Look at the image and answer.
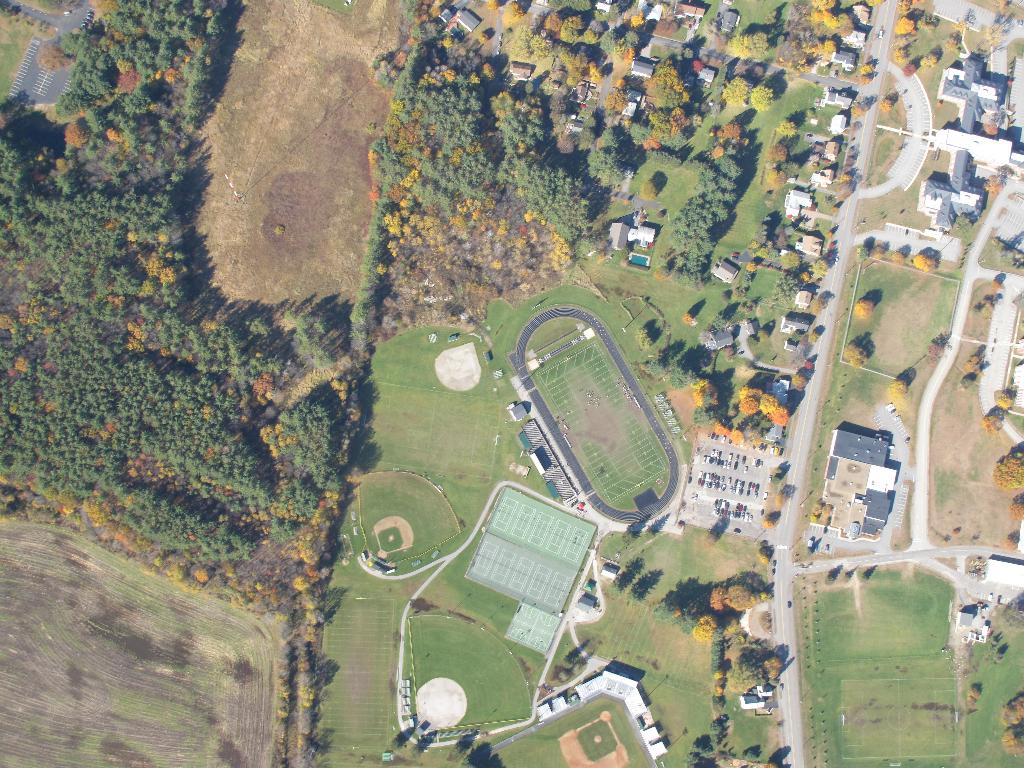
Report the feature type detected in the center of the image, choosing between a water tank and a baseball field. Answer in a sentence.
The feature located in the center of the image is a baseball field.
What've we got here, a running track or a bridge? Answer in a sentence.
This aerial view contains a running track.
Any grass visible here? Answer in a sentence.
Yes, some grass is visible.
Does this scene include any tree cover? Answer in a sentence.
Yes, there is tree cover in the image.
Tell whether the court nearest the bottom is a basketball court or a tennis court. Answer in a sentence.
The court nearest the bottom is a basketball court.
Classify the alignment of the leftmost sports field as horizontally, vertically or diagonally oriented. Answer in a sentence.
What the image shows is the leftmost sports field lying vertically.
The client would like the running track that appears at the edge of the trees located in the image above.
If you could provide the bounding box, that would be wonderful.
[510,308,682,524]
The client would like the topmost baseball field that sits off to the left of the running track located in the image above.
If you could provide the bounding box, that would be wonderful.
[435,342,481,390]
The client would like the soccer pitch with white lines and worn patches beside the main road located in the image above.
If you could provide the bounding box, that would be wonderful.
[835,675,961,762]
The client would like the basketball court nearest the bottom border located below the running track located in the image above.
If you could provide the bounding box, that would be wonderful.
[506,598,562,655]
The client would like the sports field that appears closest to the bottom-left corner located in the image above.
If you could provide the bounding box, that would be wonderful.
[326,593,396,748]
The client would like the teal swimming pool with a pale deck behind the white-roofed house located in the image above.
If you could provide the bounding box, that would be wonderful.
[628,252,651,269]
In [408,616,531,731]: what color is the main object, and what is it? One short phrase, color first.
green baseball field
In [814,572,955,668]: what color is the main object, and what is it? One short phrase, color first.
green sports field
